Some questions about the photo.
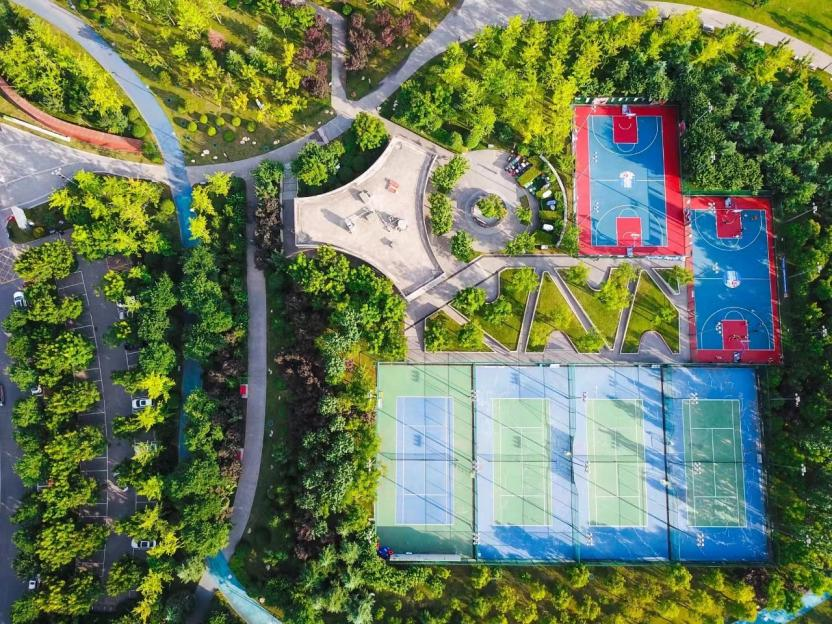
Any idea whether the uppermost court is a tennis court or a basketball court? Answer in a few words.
basketball court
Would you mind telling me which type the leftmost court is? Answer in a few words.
tennis court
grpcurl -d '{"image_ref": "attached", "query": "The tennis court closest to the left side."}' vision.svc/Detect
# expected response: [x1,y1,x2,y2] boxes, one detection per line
[375,366,473,561]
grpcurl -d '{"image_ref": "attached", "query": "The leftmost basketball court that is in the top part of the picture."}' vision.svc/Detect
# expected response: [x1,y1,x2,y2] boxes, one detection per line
[574,106,686,256]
